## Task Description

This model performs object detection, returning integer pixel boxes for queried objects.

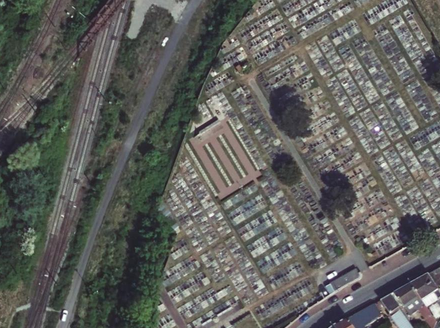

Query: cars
[62,310,68,320]
[352,283,362,290]
[300,314,310,322]
[402,248,412,256]
[344,296,354,304]
[162,37,168,46]
[328,271,338,278]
